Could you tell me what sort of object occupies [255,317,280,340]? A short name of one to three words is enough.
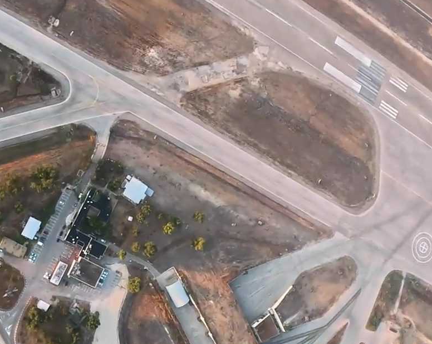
hangar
